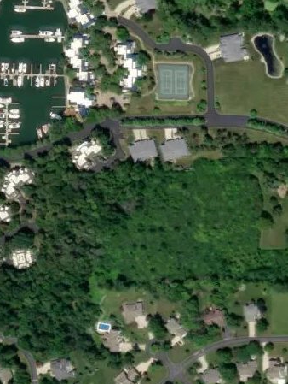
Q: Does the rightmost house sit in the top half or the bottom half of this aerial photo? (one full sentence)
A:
The bottom half of the photo is where the rightmost house is.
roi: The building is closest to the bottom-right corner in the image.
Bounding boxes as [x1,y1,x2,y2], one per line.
[266,361,286,384]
